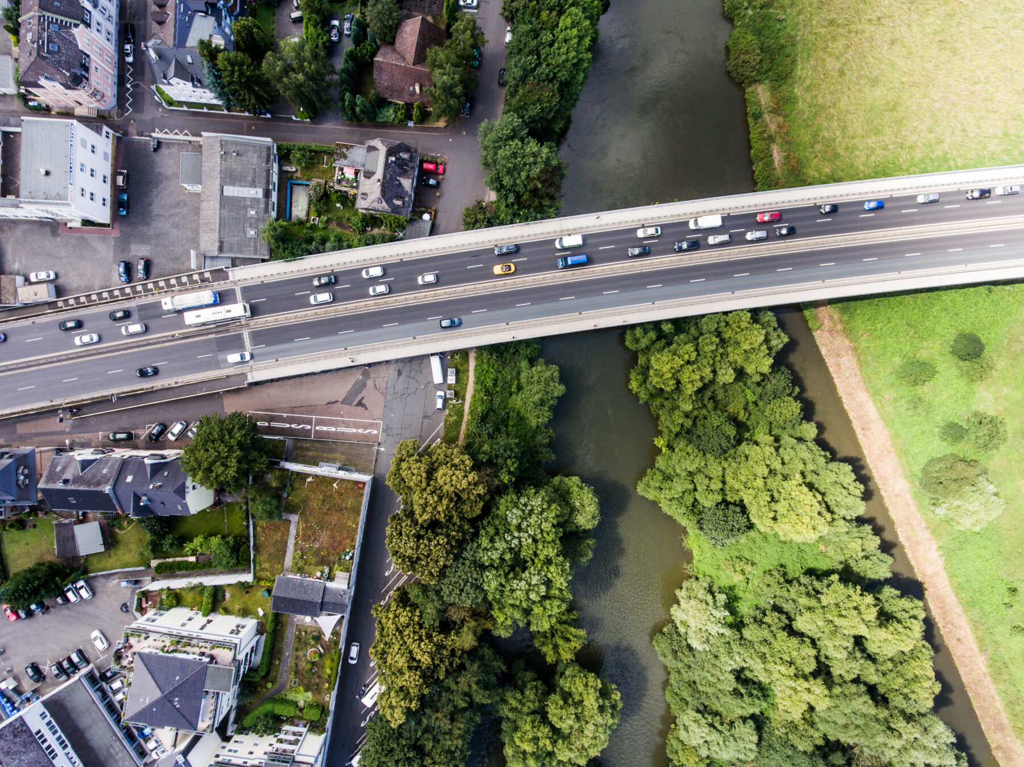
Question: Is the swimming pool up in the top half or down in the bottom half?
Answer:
top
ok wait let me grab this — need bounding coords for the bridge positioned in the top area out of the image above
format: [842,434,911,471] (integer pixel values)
[228,162,1024,383]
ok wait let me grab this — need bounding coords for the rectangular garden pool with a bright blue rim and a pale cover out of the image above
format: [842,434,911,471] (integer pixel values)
[286,179,310,222]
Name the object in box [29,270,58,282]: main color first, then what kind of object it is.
white vehicle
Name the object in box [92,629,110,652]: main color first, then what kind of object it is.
white car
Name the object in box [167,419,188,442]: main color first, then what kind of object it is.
white car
